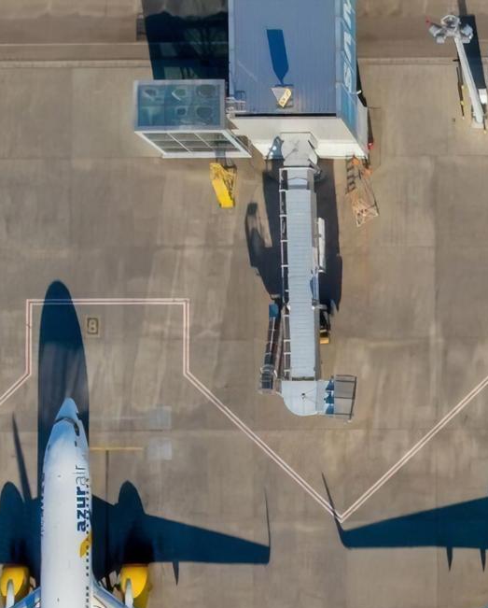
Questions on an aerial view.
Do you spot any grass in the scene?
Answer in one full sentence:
No, there is no grass in the image.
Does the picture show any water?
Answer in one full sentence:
No, the scene doesn't show any water.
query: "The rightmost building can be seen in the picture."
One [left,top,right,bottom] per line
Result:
[227,0,370,159]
